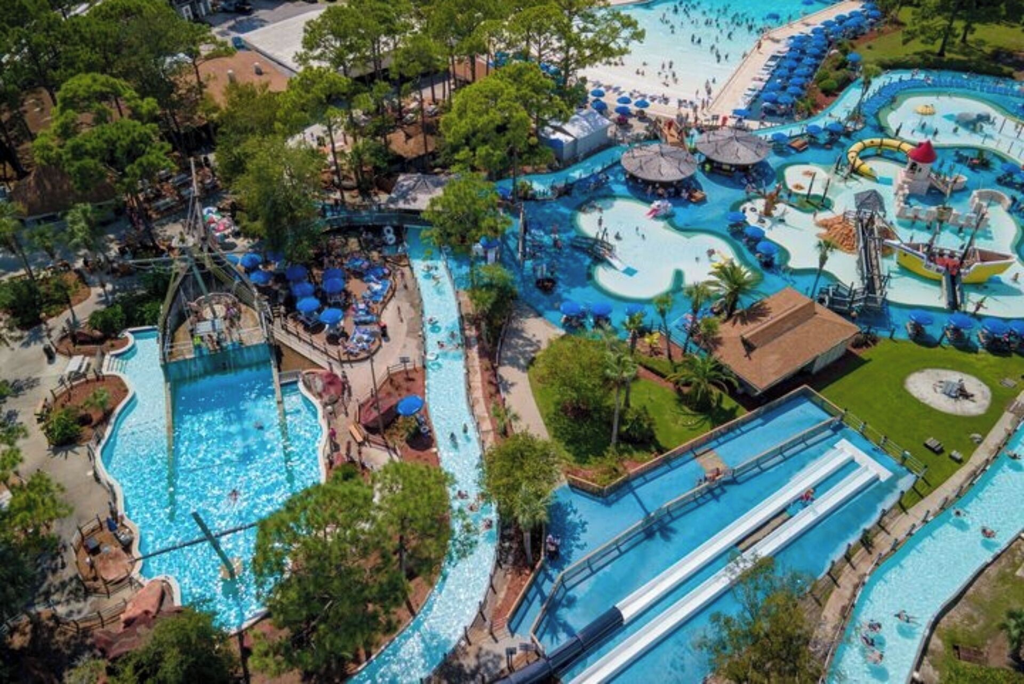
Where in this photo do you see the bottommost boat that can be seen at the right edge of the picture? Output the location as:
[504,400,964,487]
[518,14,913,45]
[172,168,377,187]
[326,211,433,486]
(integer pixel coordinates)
[894,211,1024,309]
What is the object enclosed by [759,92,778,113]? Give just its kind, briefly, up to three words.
umbrella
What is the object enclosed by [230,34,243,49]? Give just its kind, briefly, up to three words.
vehicle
